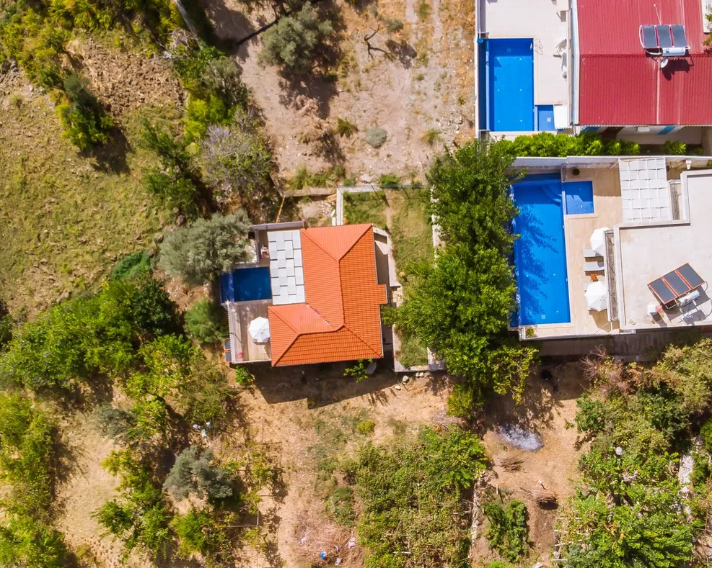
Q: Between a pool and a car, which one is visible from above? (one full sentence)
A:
The one in the frame is a pool.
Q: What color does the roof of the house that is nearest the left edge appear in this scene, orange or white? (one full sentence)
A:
In this view, the roof of the house that is nearest the left edge is orange.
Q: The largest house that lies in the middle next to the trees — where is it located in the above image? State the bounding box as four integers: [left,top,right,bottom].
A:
[268,223,388,366]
